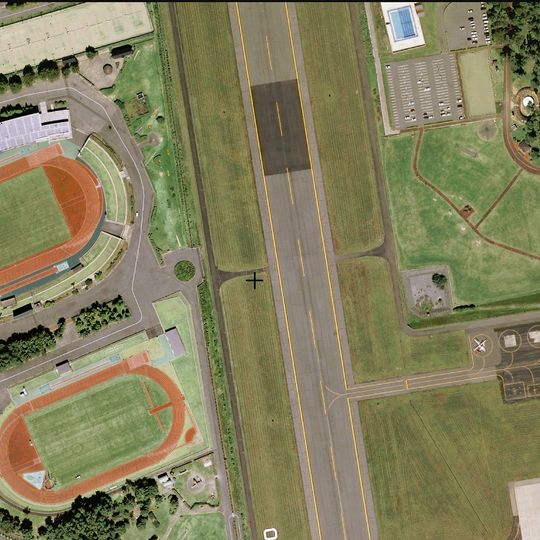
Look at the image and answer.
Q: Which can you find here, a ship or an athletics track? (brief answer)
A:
athletics track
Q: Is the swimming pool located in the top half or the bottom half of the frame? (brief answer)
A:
top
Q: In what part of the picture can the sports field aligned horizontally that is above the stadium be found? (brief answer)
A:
top left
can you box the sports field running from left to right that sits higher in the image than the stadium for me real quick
[0,0,153,74]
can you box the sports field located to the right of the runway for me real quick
[458,49,496,119]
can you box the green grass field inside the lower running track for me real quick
[26,374,172,489]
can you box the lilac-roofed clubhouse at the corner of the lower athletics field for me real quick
[166,327,185,357]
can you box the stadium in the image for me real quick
[0,102,134,326]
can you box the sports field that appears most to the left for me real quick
[0,166,71,266]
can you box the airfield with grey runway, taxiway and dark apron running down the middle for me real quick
[227,0,540,540]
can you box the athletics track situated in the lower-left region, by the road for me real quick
[0,352,202,503]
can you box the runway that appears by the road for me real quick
[236,0,371,540]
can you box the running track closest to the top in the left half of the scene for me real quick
[0,143,103,294]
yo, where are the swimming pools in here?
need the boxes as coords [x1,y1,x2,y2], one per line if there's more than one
[381,0,425,52]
